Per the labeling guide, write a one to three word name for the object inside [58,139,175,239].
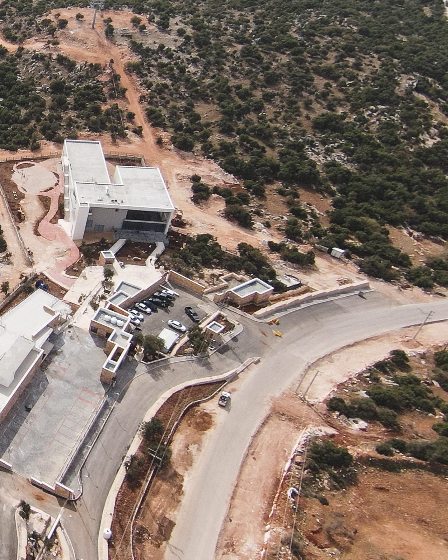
building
